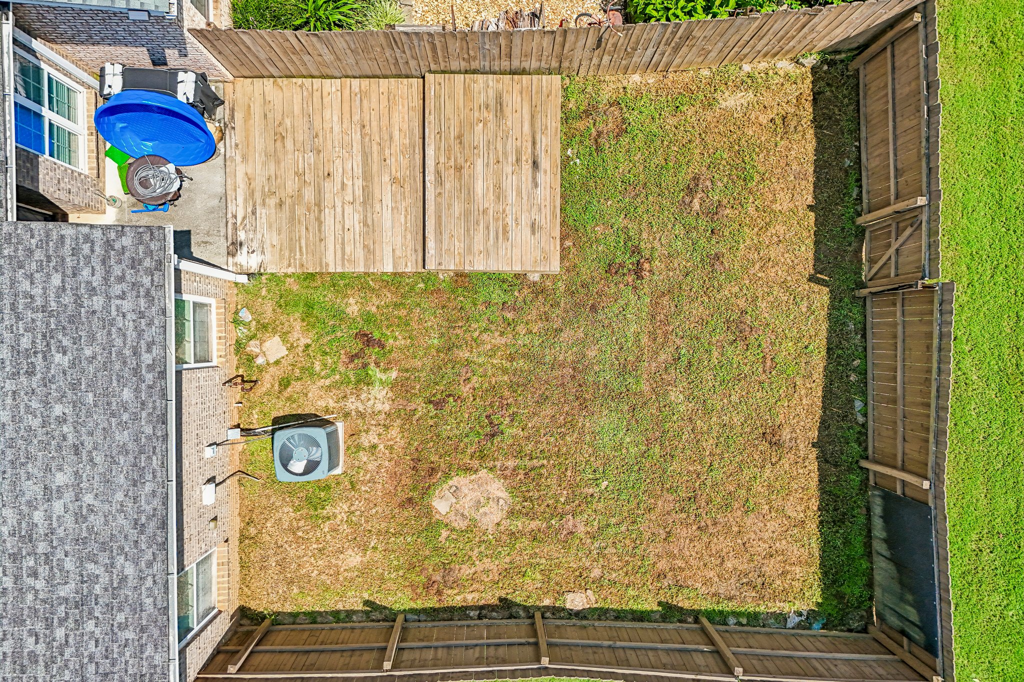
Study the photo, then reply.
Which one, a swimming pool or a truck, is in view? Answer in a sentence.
This aerial view contains a swimming pool.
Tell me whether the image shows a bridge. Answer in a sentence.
No, I can't see a single bridge in this photo.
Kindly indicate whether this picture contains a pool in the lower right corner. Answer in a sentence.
No, there is no pool in the lower right corner.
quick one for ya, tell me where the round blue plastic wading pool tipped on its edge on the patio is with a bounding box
[93,85,217,167]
